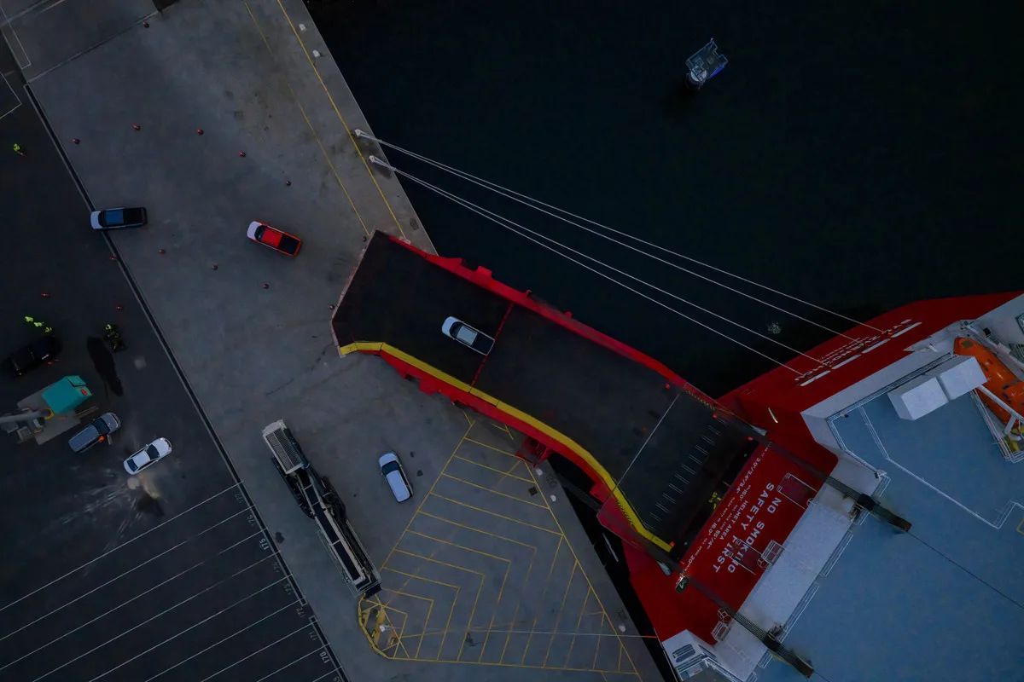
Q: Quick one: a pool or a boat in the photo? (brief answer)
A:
boat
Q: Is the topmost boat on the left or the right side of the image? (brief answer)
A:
right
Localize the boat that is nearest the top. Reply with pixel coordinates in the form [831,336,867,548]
[683,38,728,91]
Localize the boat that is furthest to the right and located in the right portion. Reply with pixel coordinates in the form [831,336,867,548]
[955,337,1024,426]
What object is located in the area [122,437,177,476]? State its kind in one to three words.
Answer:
car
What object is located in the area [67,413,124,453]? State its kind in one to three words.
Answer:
car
